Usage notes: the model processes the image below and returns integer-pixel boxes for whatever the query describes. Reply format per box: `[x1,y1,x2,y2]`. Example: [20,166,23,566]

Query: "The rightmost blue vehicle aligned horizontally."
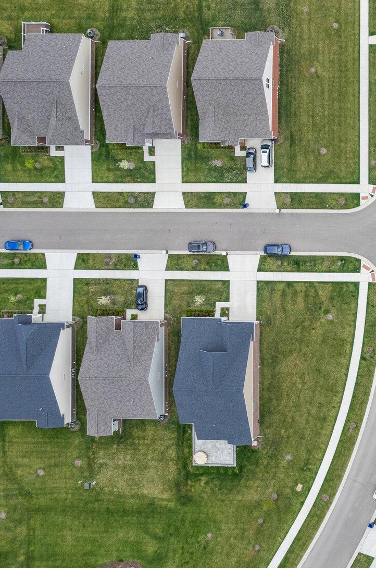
[264,244,292,256]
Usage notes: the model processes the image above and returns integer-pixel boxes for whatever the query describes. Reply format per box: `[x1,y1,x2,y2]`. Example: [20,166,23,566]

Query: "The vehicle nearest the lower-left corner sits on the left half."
[135,285,149,311]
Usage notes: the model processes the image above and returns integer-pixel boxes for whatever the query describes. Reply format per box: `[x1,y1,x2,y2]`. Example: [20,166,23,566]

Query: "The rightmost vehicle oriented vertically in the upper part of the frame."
[259,140,273,168]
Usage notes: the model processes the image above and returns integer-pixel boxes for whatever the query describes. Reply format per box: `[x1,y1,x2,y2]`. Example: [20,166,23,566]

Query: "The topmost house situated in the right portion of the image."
[192,30,284,147]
